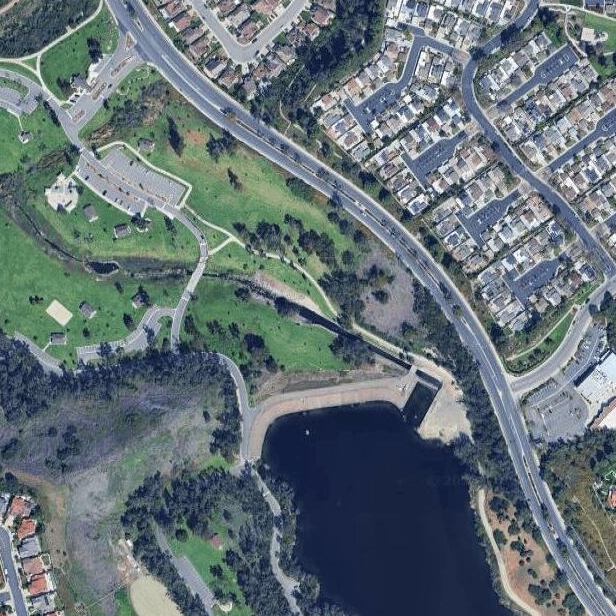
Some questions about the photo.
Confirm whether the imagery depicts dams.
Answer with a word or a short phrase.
Yes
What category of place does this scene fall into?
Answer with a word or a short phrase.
residential area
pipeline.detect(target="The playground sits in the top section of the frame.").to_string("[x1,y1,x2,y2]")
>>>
[45,174,78,214]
